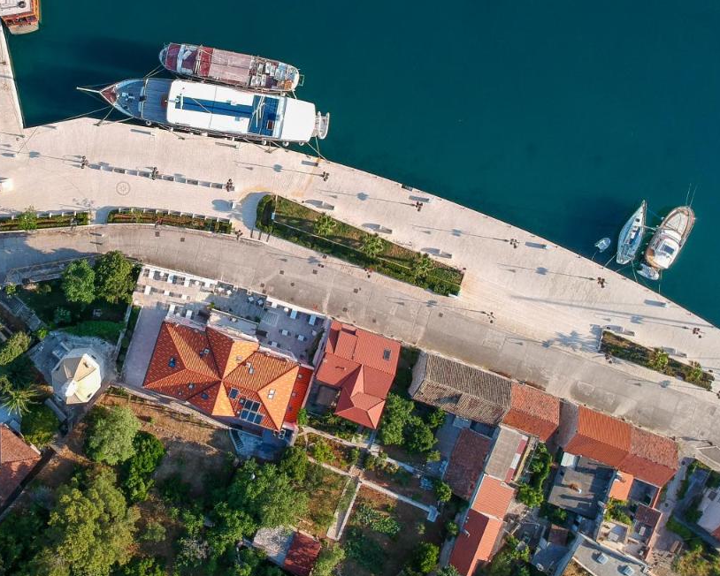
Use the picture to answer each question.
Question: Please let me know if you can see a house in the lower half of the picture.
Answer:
Yes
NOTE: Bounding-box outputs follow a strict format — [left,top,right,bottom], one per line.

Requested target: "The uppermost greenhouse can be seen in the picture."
[0,290,46,332]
